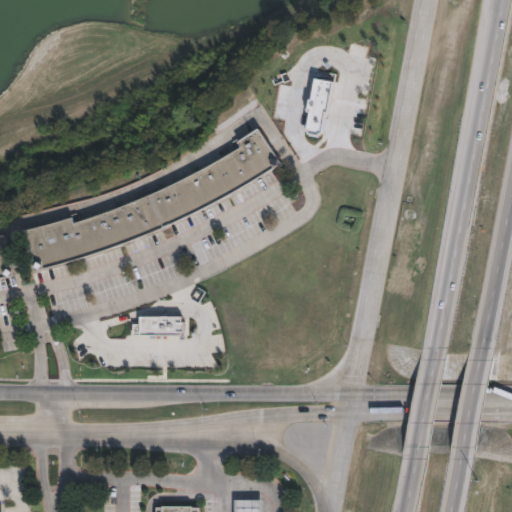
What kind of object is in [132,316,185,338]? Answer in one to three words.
building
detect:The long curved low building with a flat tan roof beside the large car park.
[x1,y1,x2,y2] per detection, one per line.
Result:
[26,128,282,268]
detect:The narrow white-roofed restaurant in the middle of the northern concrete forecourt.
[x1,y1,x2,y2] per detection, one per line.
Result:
[305,78,332,140]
